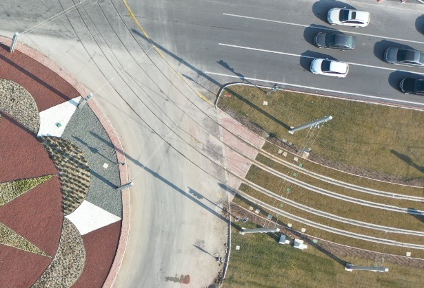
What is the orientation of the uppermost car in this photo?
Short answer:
from left to right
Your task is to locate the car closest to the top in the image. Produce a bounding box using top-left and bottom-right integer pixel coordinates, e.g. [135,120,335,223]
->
[325,5,370,29]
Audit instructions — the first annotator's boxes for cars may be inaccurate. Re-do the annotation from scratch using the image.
[313,30,356,52]
[382,46,424,69]
[398,76,424,97]
[325,5,370,29]
[308,56,350,78]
